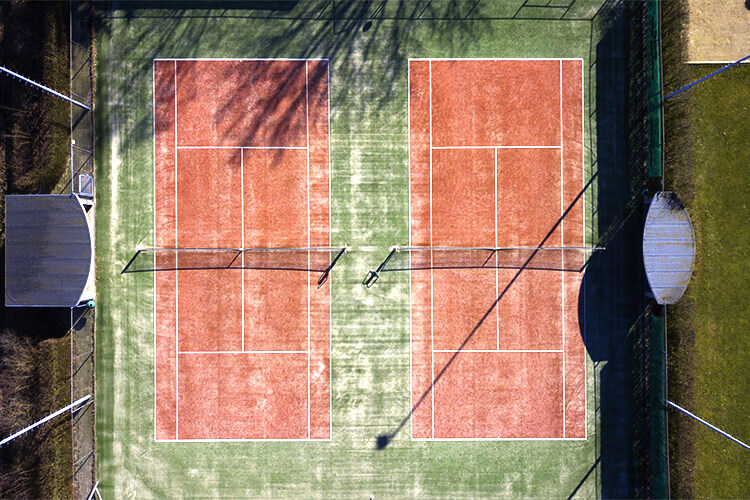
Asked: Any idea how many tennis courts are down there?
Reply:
2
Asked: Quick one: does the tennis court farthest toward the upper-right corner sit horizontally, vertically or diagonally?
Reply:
vertically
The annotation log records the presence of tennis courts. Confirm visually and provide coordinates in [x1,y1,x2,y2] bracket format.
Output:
[408,58,587,441]
[153,59,332,442]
